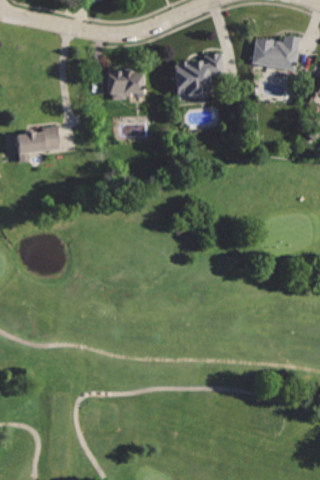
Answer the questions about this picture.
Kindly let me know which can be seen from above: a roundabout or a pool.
pool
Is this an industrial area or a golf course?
golf course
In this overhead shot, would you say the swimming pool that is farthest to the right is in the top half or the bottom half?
top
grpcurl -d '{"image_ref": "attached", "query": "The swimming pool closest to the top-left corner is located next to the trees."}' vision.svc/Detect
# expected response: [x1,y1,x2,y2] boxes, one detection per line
[112,116,148,142]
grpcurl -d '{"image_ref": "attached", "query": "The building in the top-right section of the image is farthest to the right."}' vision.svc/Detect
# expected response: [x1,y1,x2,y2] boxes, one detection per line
[254,36,302,72]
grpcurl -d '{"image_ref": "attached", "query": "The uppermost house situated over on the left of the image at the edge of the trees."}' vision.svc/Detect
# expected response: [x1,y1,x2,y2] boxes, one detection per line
[109,72,146,102]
